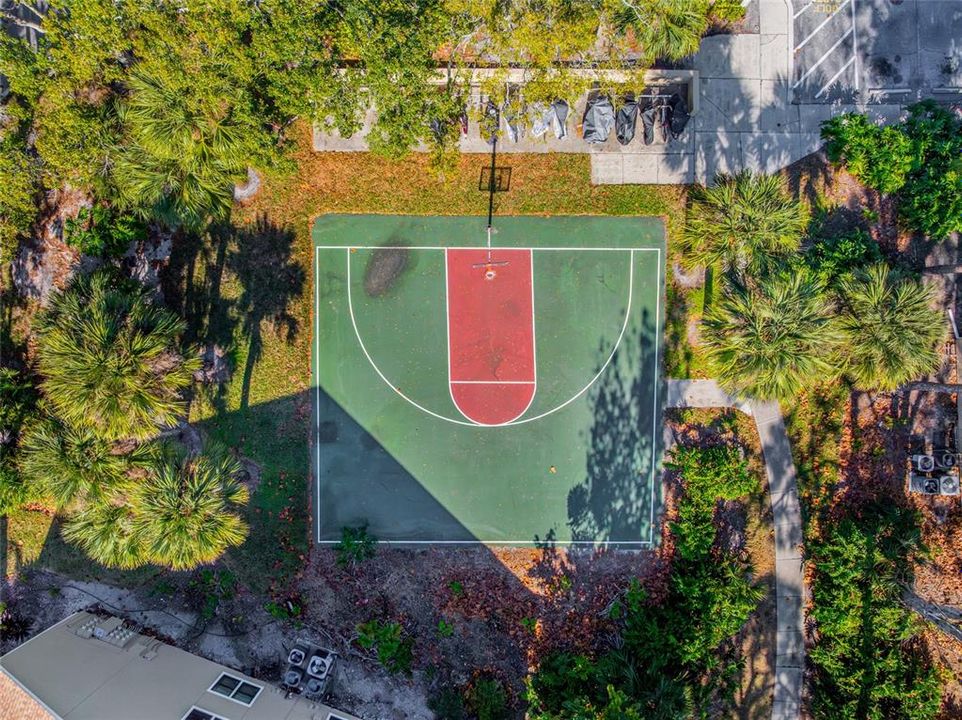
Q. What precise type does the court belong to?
basketball court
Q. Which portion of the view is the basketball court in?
center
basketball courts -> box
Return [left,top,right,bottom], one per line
[310,215,667,548]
